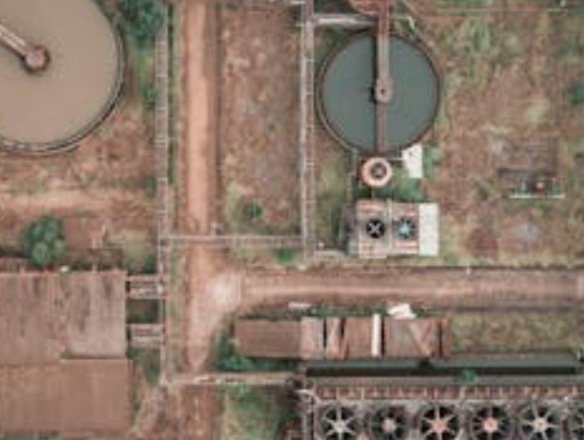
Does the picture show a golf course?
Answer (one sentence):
No, there isn't any golf course down there.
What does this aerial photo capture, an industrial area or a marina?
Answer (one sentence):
The picture captures an industrial area.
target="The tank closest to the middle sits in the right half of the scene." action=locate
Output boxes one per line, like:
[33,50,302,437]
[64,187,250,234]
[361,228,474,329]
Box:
[355,156,392,187]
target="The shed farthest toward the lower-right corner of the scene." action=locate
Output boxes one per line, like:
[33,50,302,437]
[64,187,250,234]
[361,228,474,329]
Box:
[296,314,450,357]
